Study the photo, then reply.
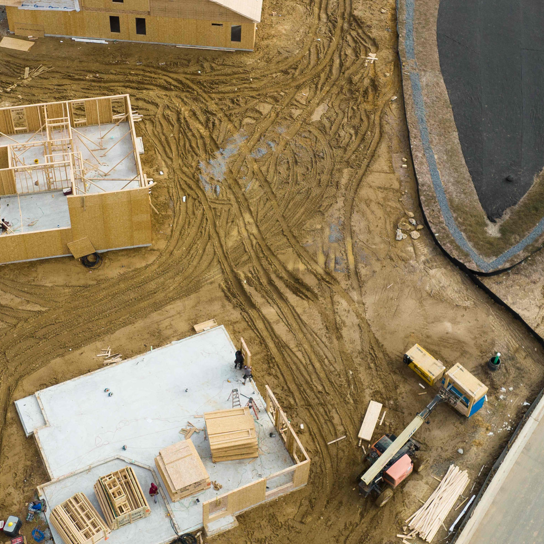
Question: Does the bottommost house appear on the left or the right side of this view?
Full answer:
The bottommost house appears in the left half of the scene.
